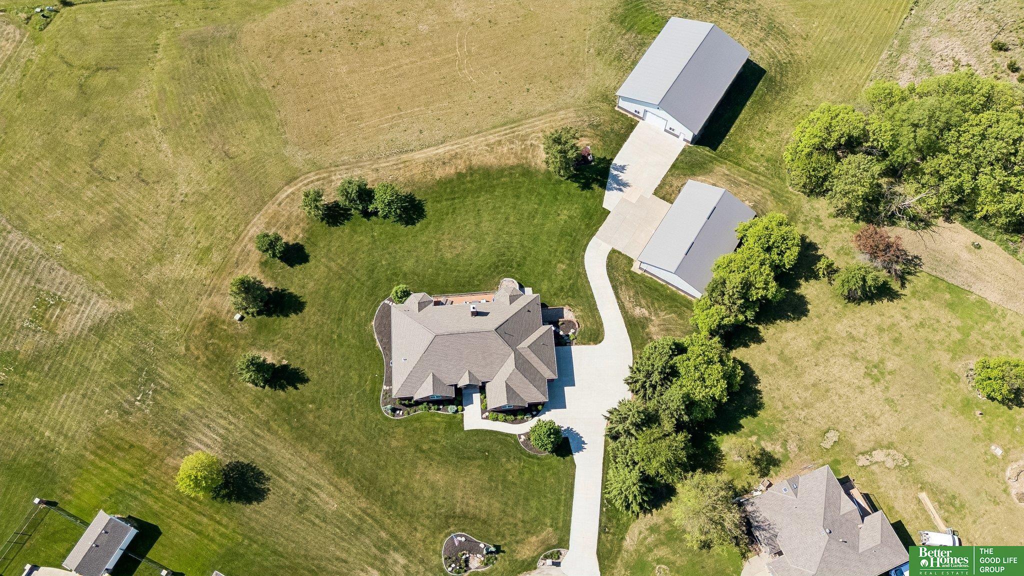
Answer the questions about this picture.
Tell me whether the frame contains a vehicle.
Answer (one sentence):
Yes, the frame does contain a vehicle.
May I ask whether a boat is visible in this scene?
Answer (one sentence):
No, there appears to be no boat in this shot.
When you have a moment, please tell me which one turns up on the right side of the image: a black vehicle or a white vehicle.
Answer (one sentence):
Visible on the right side of the image is a white vehicle.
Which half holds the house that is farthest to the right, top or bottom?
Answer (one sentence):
Seen from above, the house that is farthest to the right lies in the bottom half of the view.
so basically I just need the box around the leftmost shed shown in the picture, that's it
[61,509,137,576]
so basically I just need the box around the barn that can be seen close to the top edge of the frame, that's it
[615,16,749,144]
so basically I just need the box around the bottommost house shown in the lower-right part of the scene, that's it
[742,464,910,576]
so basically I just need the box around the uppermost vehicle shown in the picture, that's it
[917,531,959,557]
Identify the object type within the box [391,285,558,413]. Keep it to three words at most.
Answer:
house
